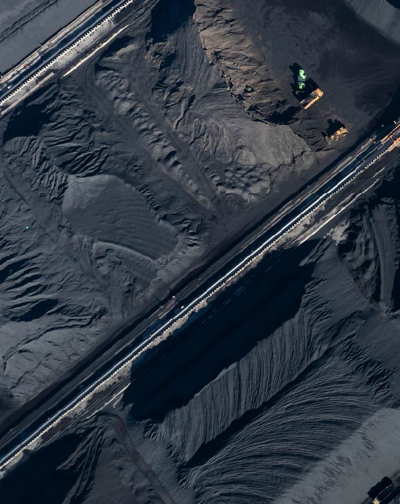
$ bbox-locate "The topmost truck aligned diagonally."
[301,88,323,111]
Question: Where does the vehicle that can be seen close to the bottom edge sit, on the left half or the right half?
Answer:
right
